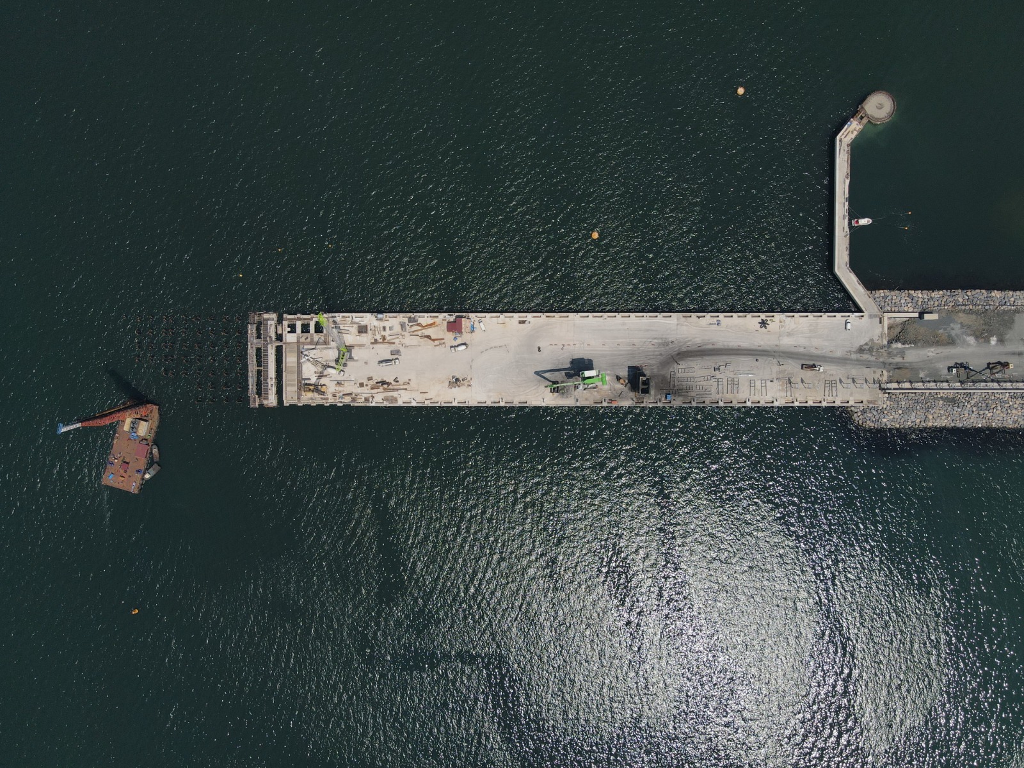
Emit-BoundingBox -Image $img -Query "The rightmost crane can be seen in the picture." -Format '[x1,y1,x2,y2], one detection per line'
[542,369,607,392]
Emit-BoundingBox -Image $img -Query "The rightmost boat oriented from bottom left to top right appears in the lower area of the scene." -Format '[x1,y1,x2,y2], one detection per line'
[145,463,162,480]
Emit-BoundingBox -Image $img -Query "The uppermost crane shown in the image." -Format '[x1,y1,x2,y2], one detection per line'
[320,313,351,372]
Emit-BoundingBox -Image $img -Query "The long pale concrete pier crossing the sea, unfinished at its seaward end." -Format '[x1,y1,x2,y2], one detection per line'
[282,313,883,407]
